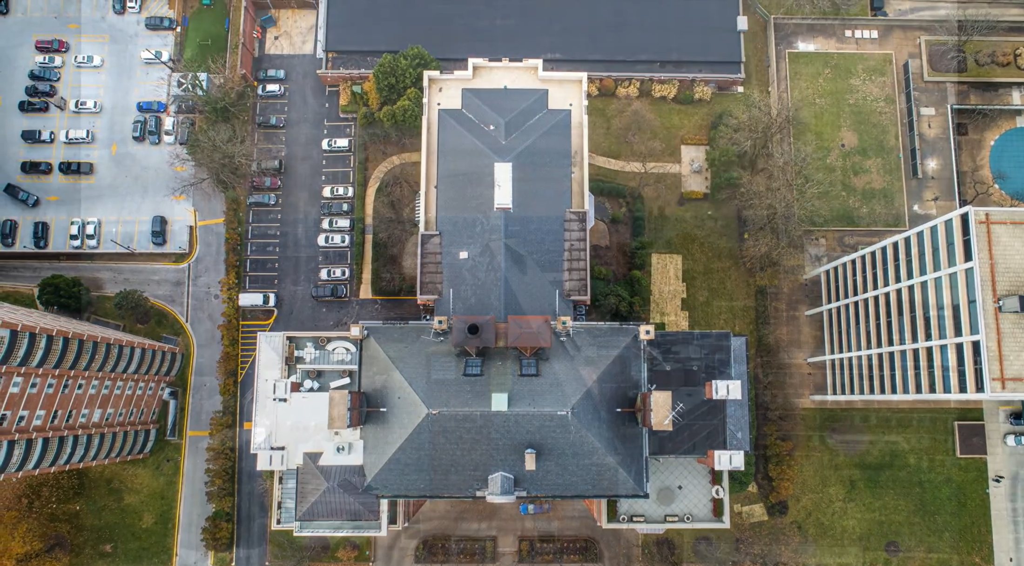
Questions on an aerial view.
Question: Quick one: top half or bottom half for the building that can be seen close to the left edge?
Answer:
bottom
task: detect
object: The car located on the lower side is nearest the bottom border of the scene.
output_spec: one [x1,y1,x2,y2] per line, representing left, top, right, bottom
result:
[520,502,551,517]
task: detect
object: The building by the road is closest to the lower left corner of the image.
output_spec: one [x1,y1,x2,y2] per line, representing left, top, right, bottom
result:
[0,301,184,486]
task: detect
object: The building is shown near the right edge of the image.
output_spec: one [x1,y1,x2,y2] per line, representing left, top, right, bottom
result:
[806,205,1024,407]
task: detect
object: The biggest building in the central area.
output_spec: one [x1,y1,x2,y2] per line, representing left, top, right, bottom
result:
[250,58,750,537]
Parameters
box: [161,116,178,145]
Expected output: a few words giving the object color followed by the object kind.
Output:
white car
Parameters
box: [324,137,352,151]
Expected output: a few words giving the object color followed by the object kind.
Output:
white car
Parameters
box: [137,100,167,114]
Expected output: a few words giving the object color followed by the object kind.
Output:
blue car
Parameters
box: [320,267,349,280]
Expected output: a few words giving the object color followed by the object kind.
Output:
white vehicle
